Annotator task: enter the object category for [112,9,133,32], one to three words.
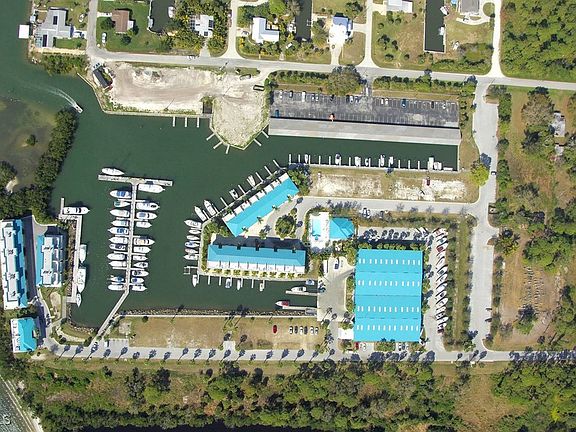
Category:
house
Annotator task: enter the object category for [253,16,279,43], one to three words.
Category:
house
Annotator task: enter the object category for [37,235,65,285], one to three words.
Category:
building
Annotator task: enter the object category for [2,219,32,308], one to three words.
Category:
building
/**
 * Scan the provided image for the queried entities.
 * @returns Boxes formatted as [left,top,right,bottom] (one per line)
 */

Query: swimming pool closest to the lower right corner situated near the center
[310,212,330,247]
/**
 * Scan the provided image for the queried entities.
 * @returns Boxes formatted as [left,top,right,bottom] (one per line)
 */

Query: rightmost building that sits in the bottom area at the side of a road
[354,249,422,342]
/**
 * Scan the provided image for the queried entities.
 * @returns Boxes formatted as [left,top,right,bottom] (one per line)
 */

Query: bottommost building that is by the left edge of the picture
[11,318,37,353]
